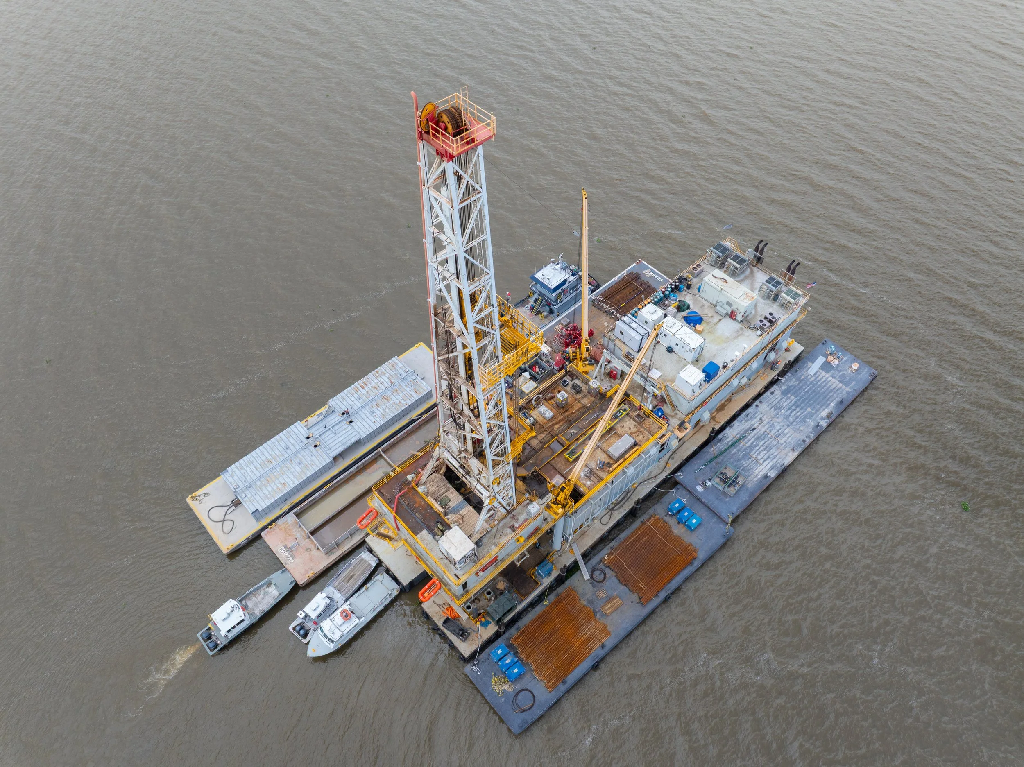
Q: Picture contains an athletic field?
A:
No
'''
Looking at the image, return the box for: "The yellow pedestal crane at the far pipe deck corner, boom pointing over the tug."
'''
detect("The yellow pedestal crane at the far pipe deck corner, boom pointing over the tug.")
[569,184,601,368]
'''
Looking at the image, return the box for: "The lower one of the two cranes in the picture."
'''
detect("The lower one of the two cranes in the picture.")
[540,321,664,552]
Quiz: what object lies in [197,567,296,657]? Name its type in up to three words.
boat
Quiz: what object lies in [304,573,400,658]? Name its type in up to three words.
boat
